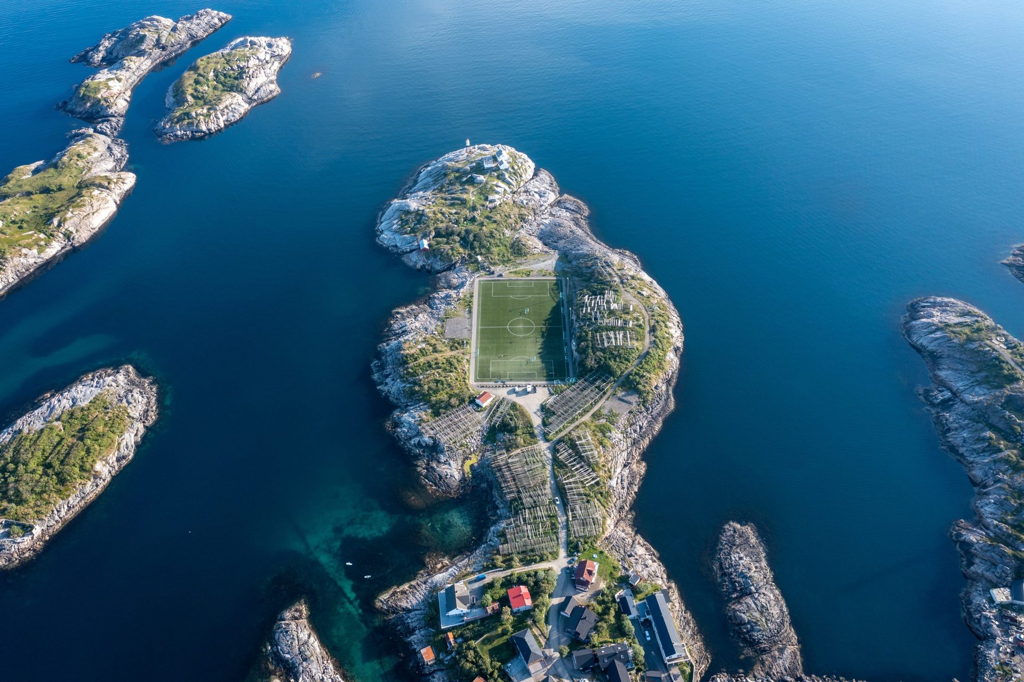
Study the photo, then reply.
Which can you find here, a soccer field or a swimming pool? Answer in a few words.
soccer field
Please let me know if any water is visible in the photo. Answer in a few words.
Yes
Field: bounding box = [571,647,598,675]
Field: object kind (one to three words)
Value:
house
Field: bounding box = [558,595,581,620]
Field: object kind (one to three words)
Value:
building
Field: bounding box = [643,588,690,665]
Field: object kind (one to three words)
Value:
building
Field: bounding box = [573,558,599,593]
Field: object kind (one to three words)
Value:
house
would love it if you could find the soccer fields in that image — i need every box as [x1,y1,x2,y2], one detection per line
[474,280,570,382]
